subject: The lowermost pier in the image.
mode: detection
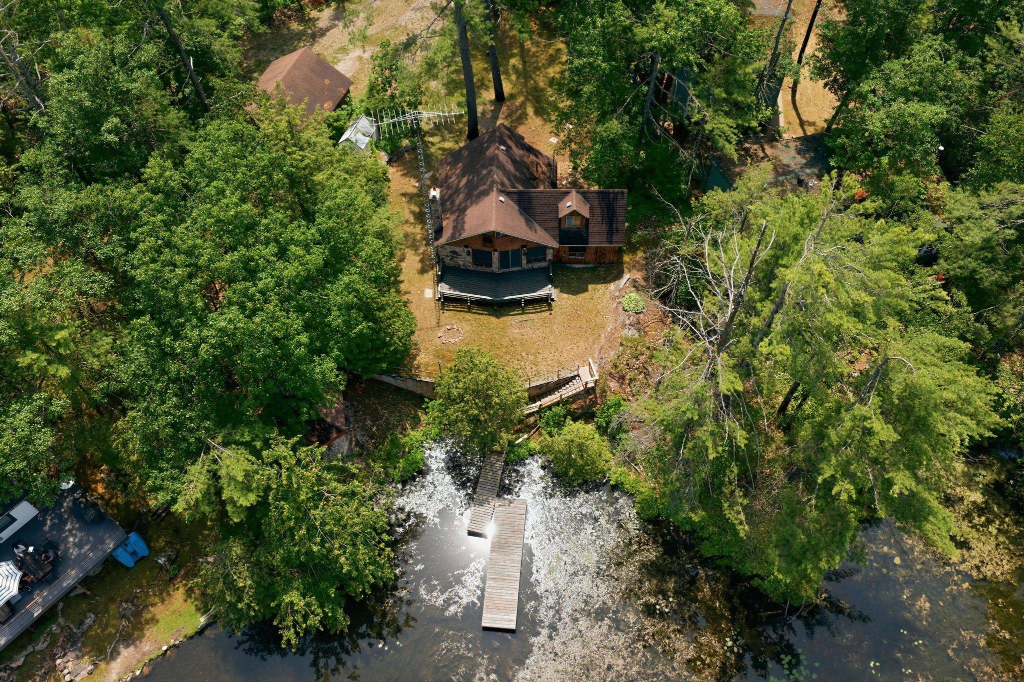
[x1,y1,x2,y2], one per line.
[482,499,527,632]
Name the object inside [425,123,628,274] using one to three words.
building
